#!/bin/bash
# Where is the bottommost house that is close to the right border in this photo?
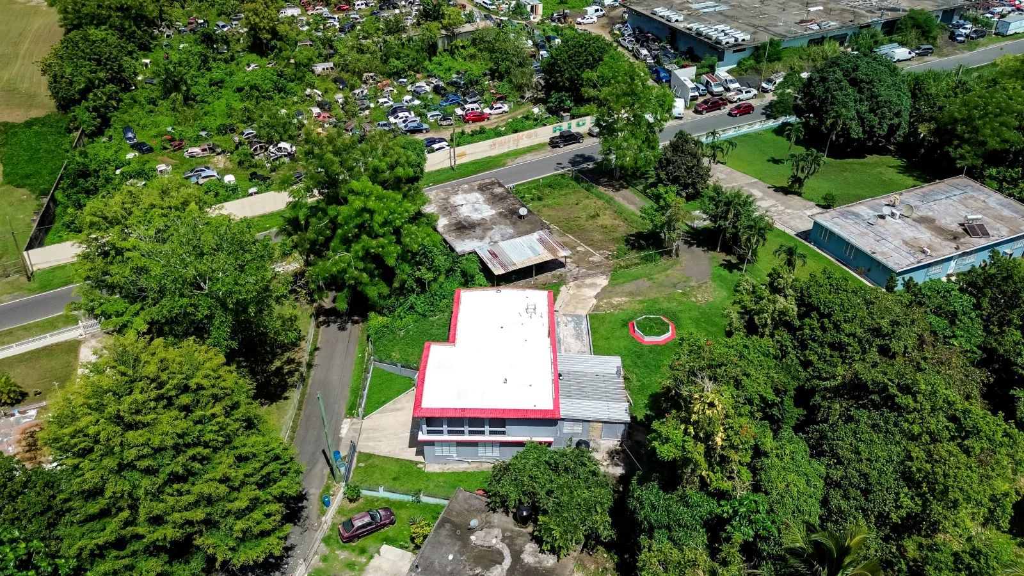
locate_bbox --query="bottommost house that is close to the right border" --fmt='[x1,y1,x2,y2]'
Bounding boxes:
[809,175,1024,288]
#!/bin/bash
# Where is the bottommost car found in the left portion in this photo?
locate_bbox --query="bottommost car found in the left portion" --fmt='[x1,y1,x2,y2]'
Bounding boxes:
[337,513,395,546]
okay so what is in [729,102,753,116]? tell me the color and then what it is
red car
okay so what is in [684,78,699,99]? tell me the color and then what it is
white vehicle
